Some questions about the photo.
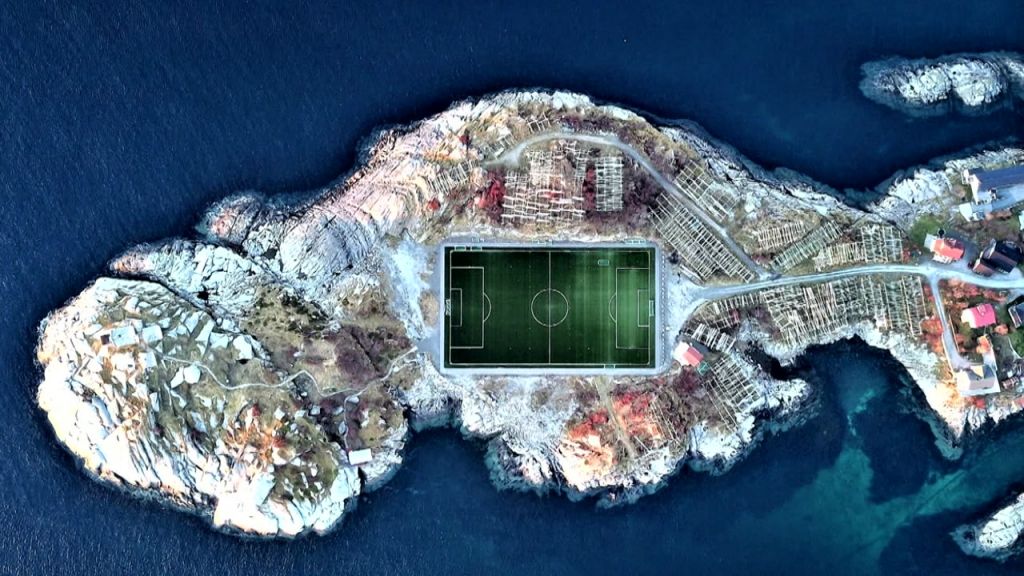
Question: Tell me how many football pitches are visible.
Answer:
1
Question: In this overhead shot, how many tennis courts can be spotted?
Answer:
none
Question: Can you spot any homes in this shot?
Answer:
Yes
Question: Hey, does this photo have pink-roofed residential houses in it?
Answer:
Yes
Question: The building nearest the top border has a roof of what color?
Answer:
blue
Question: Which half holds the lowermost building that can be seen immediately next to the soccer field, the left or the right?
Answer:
right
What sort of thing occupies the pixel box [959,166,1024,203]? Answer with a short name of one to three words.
building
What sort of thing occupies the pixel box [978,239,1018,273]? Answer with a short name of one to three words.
house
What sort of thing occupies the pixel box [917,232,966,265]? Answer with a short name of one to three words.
house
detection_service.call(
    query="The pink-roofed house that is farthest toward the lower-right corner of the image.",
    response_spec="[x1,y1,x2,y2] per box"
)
[960,303,997,328]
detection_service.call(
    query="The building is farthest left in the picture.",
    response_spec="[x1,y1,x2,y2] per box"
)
[349,448,373,465]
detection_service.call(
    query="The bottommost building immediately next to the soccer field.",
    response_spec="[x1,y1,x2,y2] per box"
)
[669,336,705,367]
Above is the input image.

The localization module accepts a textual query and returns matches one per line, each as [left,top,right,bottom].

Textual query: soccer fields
[421,236,671,377]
